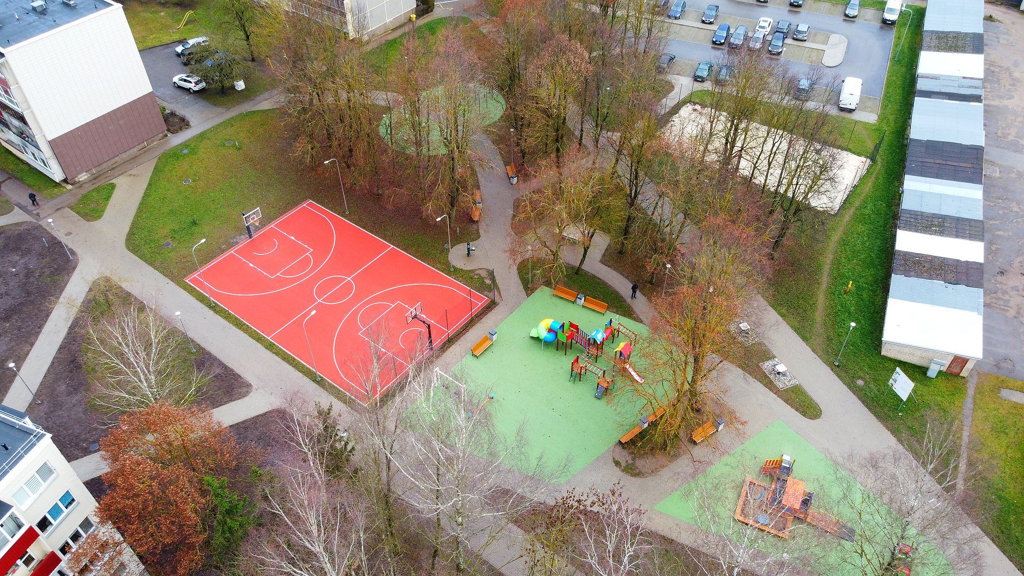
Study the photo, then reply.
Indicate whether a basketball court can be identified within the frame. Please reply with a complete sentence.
Yes, there's a basketball court down there.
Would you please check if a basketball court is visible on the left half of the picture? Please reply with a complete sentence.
Yes, on the left half of the picture there is a basketball court.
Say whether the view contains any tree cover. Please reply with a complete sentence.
Yes, some tree cover is visible.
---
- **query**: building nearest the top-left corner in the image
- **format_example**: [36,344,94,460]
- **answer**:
[0,0,171,187]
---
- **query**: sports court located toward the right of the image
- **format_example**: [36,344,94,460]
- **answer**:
[665,103,871,213]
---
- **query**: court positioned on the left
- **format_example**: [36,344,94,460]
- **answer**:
[179,196,493,409]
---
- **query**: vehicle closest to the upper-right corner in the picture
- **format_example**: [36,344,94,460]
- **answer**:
[882,0,903,24]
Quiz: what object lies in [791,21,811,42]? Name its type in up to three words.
car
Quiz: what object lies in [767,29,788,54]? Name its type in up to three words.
car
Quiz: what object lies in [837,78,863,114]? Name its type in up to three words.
vehicle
